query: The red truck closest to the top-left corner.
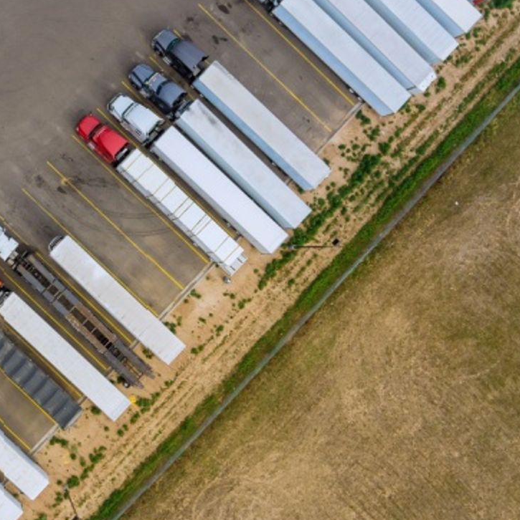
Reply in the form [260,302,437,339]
[74,114,131,186]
